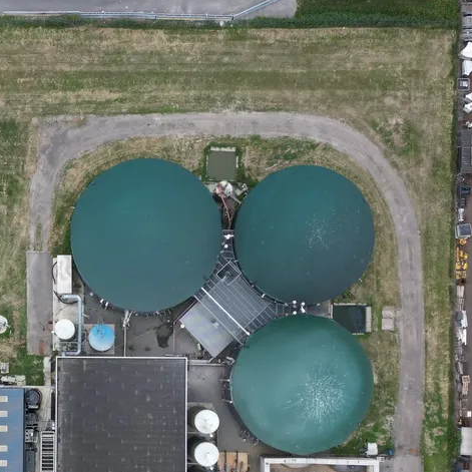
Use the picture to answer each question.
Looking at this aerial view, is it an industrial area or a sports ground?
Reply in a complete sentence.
What you see here is an industrial area.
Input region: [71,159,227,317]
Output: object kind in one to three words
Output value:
storage tank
